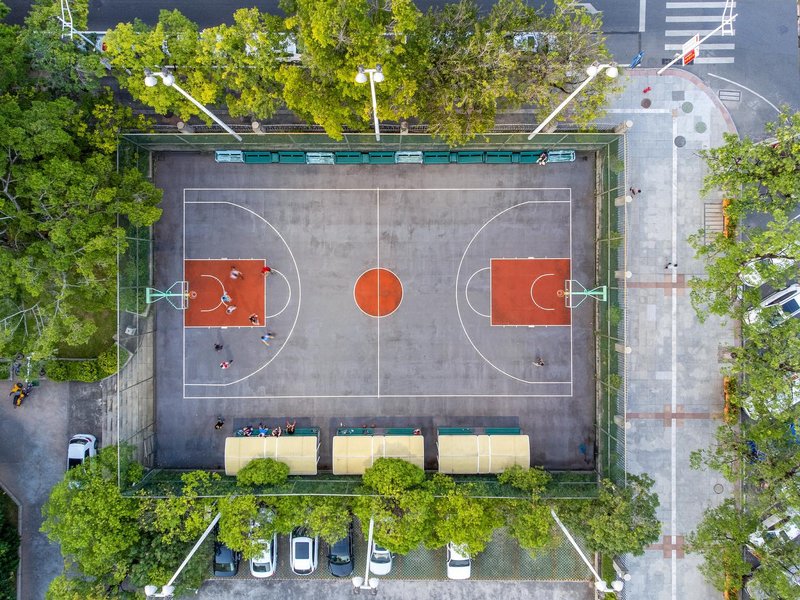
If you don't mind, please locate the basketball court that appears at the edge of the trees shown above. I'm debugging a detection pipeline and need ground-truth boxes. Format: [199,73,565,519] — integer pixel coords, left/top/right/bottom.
[152,149,597,470]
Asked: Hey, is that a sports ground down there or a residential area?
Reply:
sports ground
